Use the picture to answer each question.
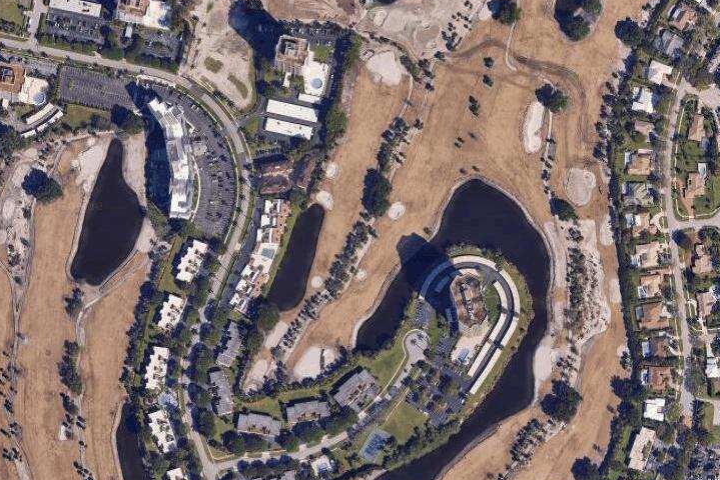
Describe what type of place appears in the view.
golf course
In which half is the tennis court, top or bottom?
bottom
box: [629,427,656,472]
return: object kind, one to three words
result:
building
